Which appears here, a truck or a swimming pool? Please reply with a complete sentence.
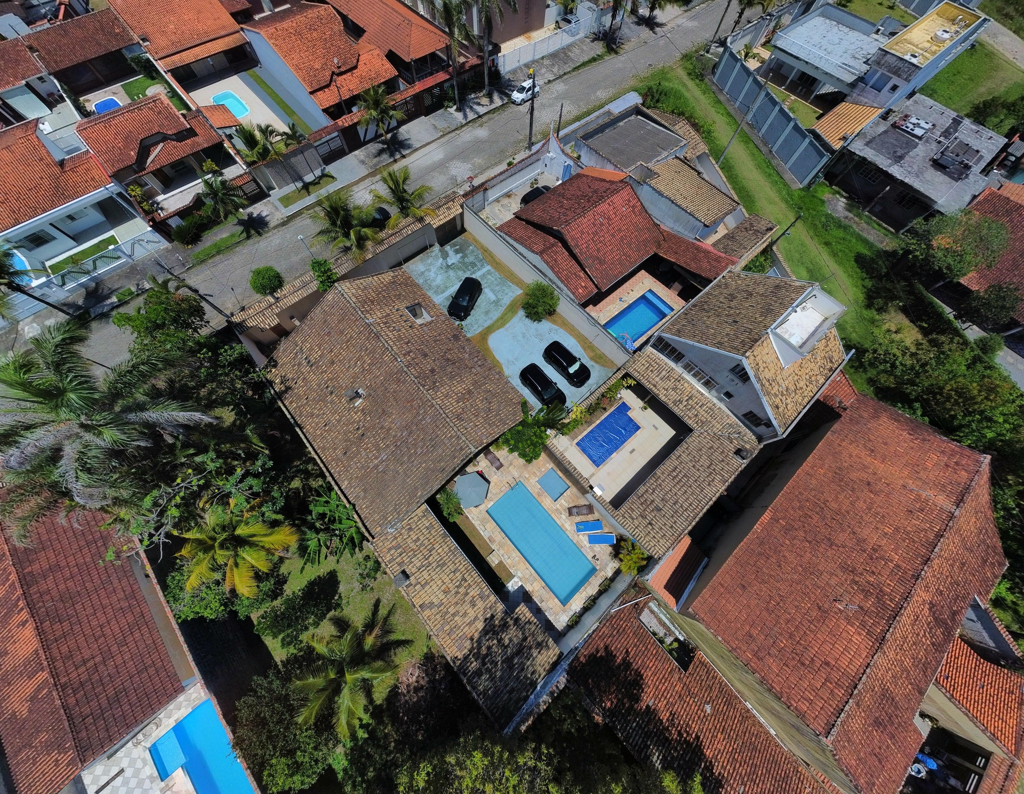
There is a swimming pool in the scene.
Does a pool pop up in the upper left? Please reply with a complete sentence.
Yes, in the upper left there is a pool.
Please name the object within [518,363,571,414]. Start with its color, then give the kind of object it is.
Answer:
black car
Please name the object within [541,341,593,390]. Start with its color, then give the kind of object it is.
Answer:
black car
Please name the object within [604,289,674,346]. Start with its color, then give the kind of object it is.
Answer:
blue swimming pool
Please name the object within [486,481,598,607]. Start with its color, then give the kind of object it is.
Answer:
blue swimming pool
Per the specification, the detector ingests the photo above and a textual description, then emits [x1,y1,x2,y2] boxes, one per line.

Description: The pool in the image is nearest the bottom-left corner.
[148,699,254,794]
